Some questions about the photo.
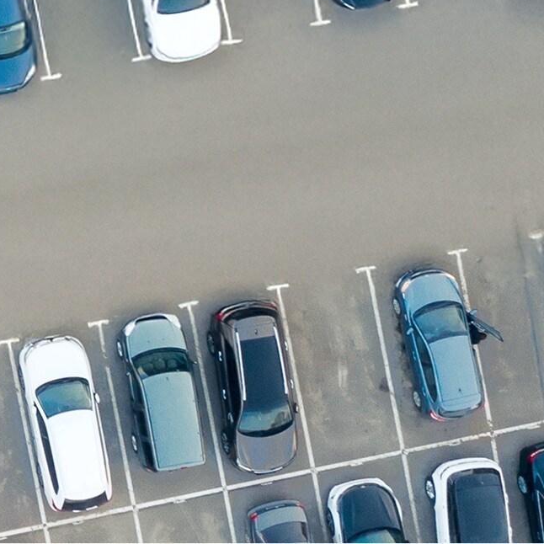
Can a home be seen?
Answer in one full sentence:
No, there appears to be no home in this shot.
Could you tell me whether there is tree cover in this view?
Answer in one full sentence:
No, there is no tree cover in the image.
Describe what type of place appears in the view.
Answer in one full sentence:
What you see here is a parking lot.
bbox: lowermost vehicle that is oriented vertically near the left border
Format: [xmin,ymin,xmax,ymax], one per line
[19,334,114,517]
